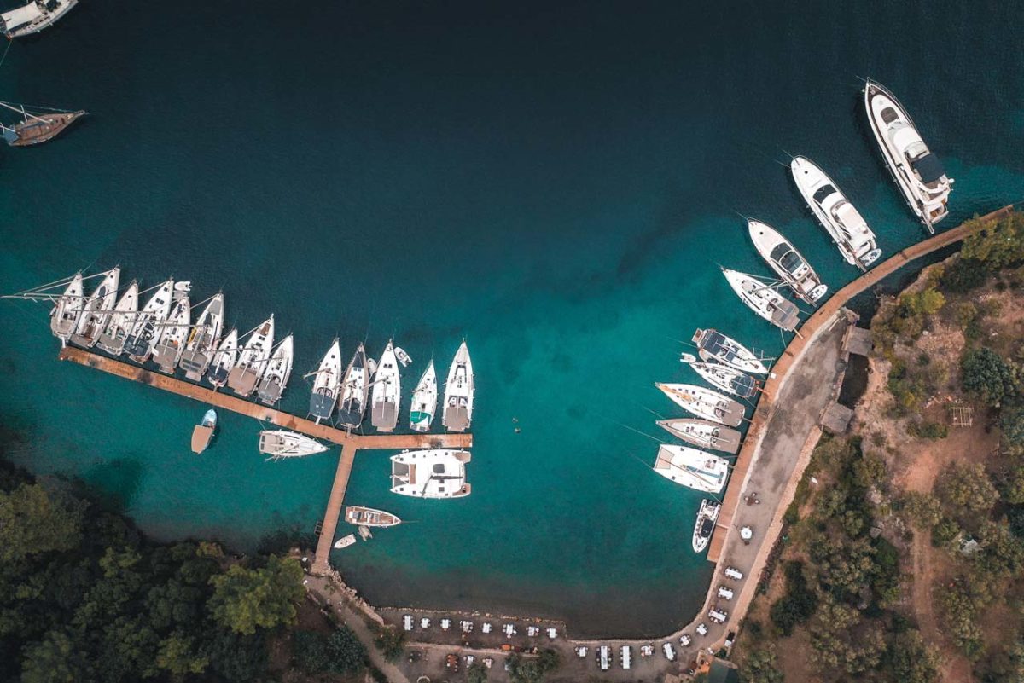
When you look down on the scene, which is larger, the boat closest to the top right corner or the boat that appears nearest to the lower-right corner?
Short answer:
the boat closest to the top right corner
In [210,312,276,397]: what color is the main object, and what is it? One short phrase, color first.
white boat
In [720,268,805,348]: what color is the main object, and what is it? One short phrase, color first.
white boat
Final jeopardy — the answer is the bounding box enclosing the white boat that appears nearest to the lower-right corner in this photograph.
[695,500,719,554]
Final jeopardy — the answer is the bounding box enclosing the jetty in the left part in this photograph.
[59,346,472,575]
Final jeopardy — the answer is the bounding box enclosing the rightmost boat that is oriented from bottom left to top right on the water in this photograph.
[860,249,883,265]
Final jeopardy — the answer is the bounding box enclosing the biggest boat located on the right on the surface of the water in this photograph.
[857,75,961,234]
